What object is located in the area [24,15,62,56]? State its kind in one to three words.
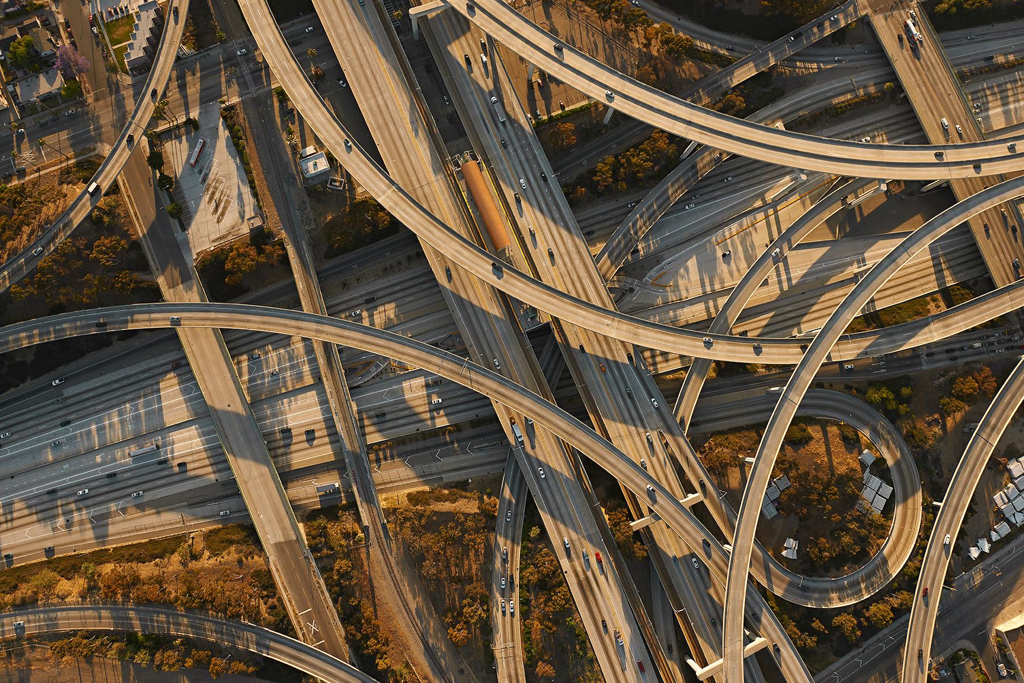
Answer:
house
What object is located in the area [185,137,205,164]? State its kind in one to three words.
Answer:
bus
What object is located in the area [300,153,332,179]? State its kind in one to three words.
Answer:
building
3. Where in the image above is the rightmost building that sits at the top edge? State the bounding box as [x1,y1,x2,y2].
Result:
[122,0,167,68]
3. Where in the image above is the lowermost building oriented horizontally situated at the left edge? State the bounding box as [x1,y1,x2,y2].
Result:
[14,73,66,104]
